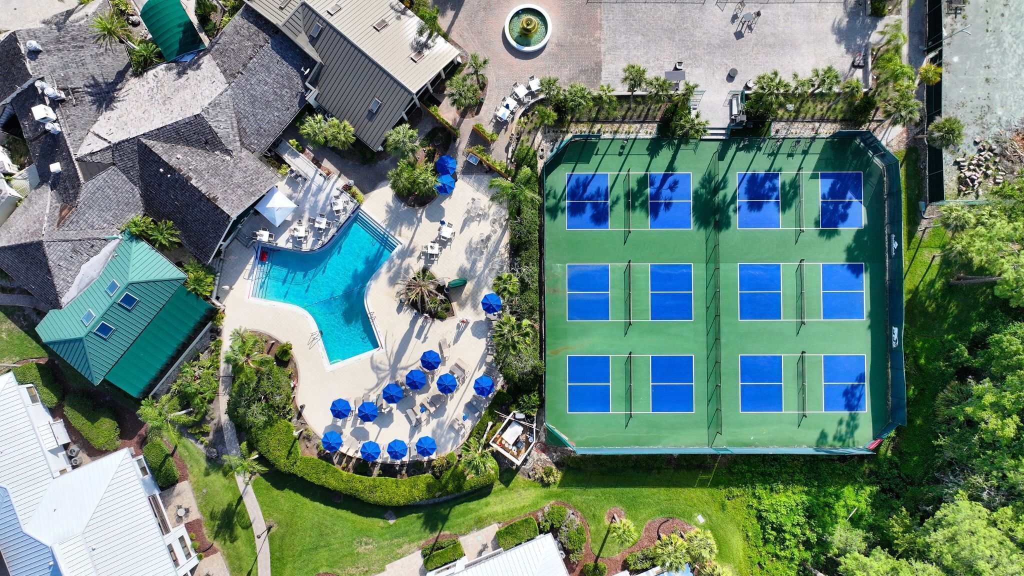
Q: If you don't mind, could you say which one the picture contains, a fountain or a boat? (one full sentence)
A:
Visible in the photo is a fountain.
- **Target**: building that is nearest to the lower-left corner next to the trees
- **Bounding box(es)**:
[0,371,200,576]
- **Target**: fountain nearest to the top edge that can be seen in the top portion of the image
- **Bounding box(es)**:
[505,4,551,53]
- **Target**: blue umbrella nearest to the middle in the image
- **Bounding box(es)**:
[480,293,501,315]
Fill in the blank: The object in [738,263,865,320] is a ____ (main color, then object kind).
blue sports court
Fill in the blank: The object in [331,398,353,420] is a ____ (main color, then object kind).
blue umbrella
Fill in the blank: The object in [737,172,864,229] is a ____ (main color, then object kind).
blue sports court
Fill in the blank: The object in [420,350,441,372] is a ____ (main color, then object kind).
blue umbrella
